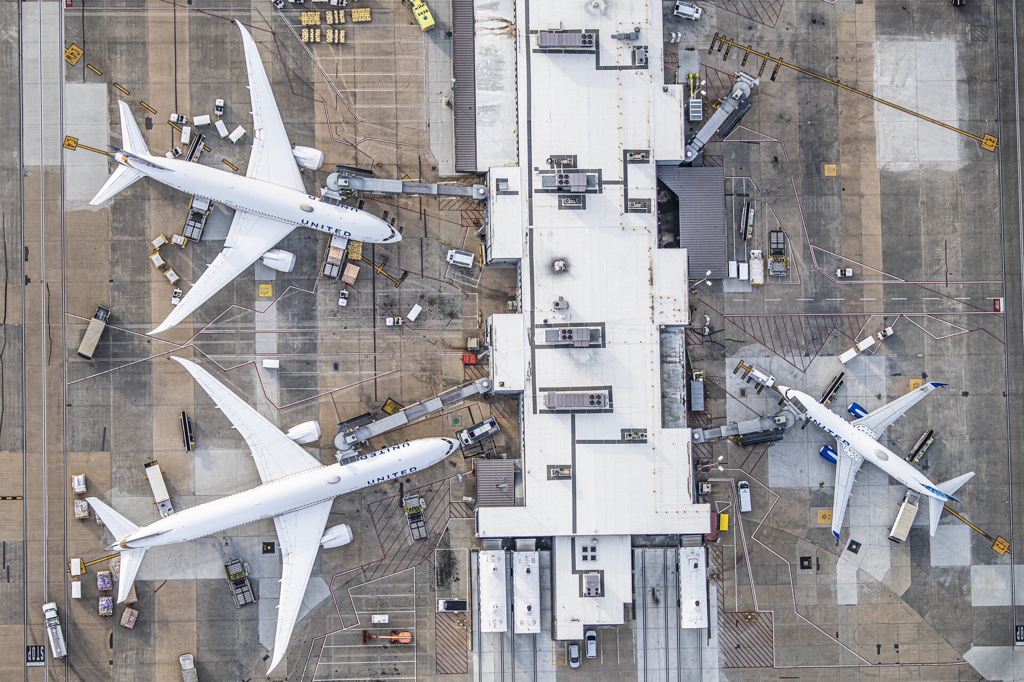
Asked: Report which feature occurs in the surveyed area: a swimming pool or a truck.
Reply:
truck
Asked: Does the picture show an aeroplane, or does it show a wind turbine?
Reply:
aeroplane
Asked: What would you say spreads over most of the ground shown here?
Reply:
paved ground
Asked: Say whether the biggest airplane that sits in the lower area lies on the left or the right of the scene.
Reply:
left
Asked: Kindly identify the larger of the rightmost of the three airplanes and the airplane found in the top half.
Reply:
the airplane found in the top half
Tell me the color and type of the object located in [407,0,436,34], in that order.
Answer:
yellow van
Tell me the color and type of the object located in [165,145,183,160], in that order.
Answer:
white work vehicle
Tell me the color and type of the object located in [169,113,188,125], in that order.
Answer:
white vehicle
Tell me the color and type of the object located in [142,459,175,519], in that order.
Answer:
white truck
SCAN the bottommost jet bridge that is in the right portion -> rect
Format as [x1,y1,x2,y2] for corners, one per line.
[690,396,807,446]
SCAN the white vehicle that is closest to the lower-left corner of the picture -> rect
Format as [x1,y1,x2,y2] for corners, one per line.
[42,602,68,659]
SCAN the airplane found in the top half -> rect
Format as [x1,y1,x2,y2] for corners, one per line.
[87,20,404,337]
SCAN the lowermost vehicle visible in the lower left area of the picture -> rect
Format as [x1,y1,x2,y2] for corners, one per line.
[177,652,197,682]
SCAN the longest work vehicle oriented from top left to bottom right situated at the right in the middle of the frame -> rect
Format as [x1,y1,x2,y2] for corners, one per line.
[746,363,778,389]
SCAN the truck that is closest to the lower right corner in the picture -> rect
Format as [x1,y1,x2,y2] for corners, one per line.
[885,488,917,543]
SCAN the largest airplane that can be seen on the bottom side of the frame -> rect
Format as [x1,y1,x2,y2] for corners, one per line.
[83,356,462,676]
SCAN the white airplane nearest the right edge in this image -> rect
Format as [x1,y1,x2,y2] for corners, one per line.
[777,382,978,548]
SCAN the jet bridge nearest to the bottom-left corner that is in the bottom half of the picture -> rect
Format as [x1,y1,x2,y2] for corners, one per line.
[333,375,491,465]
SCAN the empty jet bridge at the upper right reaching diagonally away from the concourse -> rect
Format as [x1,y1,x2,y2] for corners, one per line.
[680,71,759,165]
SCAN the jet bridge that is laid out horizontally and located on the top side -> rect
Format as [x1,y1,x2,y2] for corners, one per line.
[320,165,488,205]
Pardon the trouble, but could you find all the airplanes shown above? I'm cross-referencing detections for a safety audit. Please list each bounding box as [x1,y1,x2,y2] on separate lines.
[87,20,404,337]
[83,356,462,676]
[777,382,978,548]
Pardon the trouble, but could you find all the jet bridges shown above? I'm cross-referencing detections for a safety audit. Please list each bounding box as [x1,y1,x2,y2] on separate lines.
[320,165,488,205]
[690,396,807,446]
[680,71,759,165]
[333,375,491,465]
